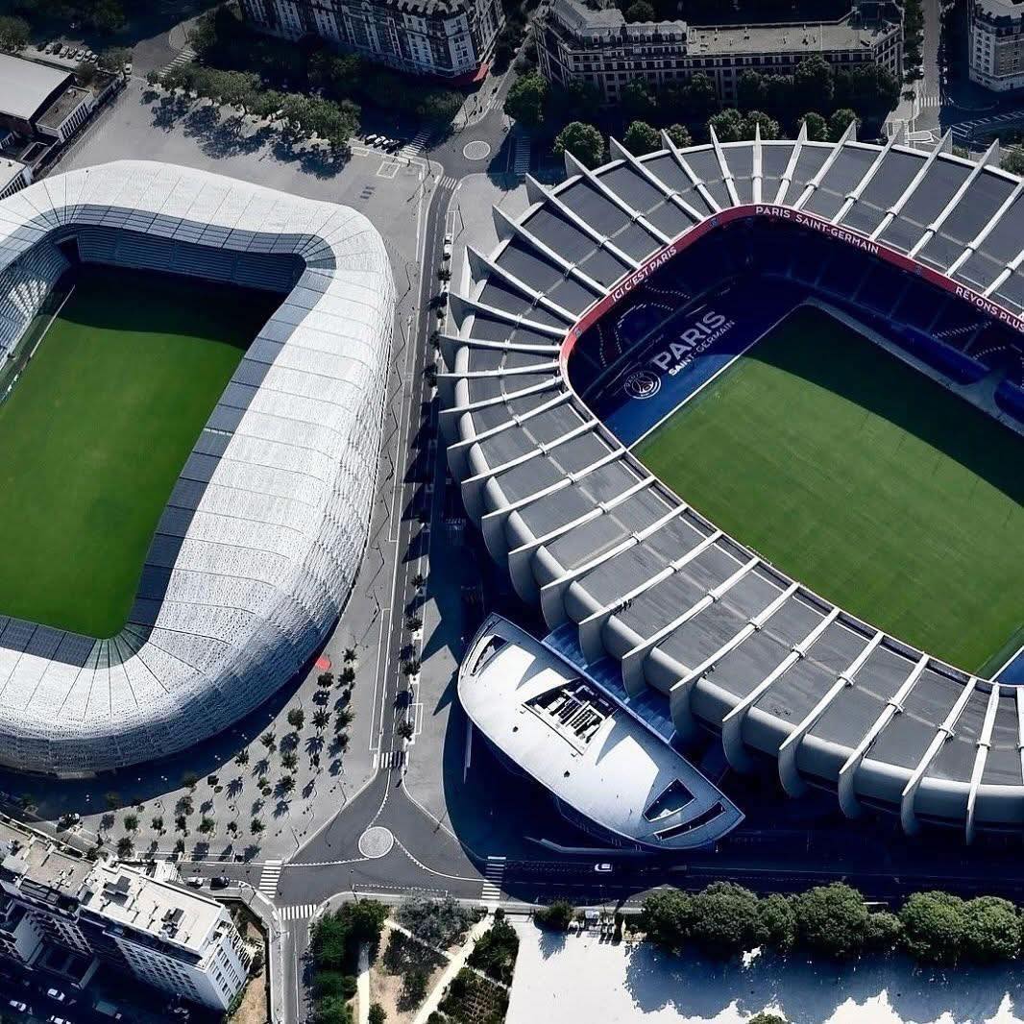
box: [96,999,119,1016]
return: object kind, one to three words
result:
vehicle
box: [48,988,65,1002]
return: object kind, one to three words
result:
car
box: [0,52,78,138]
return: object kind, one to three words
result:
building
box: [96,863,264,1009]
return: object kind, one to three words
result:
building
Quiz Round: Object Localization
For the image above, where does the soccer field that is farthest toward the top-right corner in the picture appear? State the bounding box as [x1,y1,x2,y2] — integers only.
[623,300,1024,681]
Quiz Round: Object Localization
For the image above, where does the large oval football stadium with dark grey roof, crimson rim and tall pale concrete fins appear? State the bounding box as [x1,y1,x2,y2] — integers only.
[436,120,1024,848]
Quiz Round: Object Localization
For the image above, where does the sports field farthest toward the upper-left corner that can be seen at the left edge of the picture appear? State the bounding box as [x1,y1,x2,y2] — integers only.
[0,278,277,634]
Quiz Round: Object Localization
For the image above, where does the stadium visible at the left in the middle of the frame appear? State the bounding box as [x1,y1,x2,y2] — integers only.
[0,161,398,774]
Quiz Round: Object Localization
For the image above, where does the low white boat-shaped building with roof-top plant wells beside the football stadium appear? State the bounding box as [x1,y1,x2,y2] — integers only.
[460,614,744,862]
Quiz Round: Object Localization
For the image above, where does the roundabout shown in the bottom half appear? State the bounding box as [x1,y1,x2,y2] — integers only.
[358,826,394,858]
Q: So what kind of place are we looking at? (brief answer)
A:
sports ground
